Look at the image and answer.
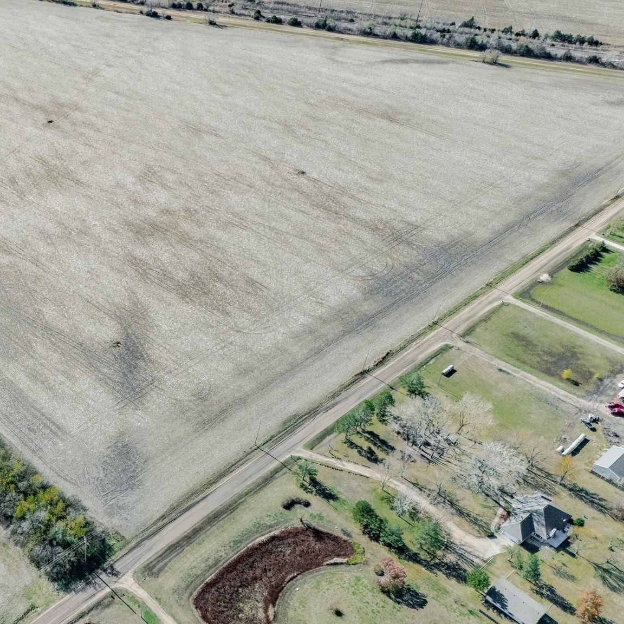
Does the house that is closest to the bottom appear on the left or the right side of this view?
right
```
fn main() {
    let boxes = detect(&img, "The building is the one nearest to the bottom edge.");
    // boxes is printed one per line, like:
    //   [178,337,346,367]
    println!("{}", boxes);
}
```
[485,577,548,624]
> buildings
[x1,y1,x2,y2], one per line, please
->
[496,483,577,548]
[590,446,624,487]
[485,577,548,624]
